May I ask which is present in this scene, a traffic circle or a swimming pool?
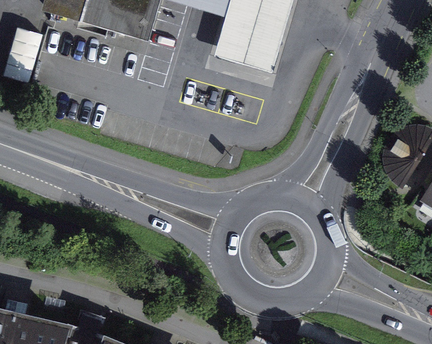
traffic circle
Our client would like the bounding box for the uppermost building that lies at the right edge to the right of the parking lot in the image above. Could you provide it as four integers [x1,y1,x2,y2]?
[384,124,432,189]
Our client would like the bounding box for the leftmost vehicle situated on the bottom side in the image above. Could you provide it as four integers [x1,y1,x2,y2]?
[150,217,173,234]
